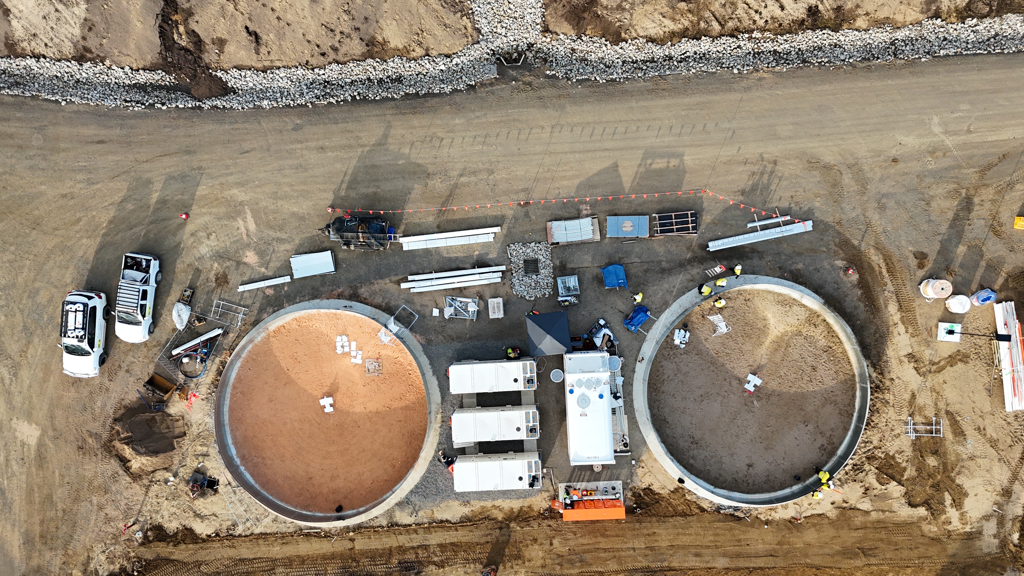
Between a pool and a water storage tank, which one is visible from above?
water storage tank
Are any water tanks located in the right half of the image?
Yes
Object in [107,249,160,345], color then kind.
white vehicle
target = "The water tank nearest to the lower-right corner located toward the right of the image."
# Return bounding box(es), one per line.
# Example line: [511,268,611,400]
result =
[633,273,869,509]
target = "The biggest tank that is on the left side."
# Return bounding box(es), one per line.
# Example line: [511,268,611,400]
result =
[213,298,441,527]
